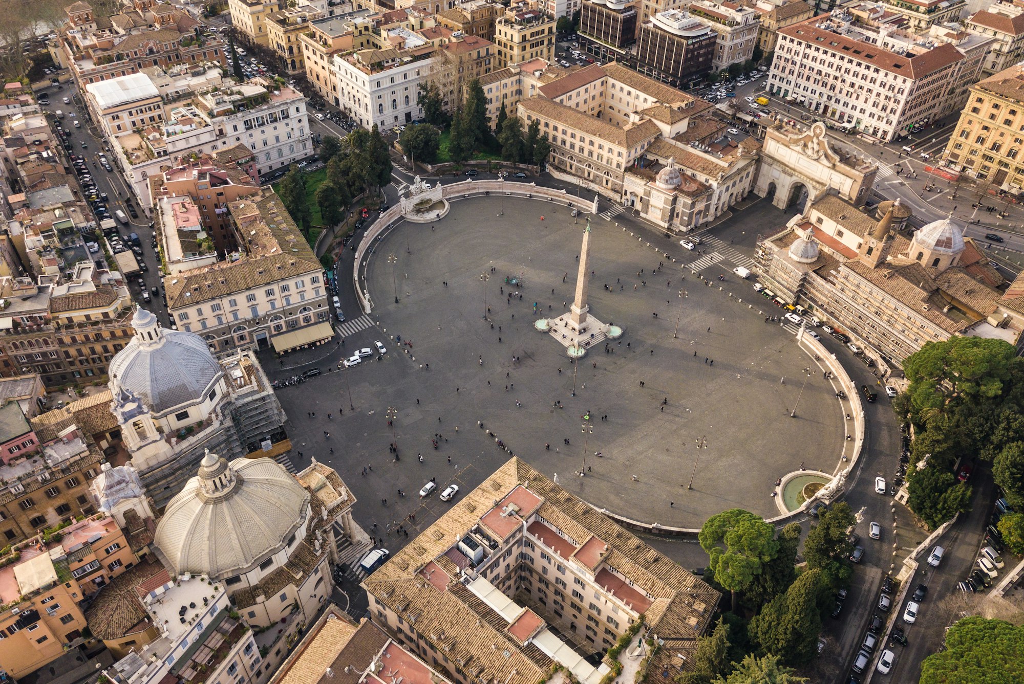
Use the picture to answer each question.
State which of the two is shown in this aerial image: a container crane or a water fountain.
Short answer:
water fountain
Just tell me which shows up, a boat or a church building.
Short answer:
church building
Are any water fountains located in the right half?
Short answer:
Yes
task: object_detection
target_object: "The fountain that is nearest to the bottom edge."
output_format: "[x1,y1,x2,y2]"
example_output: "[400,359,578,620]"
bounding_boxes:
[776,464,858,523]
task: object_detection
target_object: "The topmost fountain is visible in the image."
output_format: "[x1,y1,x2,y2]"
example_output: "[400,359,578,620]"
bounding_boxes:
[393,175,447,219]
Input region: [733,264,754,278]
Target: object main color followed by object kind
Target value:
white vehicle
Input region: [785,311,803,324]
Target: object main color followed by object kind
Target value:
white vehicle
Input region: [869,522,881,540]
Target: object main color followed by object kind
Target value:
gray vehicle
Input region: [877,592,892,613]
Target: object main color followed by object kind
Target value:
gray car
